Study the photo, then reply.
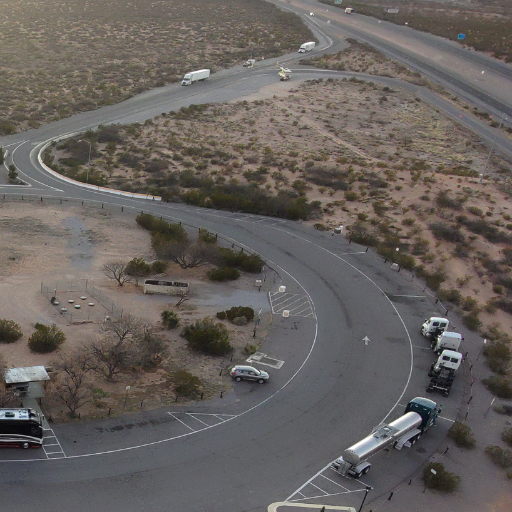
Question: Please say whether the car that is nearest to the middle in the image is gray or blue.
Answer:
gray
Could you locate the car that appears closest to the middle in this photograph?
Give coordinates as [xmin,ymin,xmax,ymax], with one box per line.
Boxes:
[231,365,270,385]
